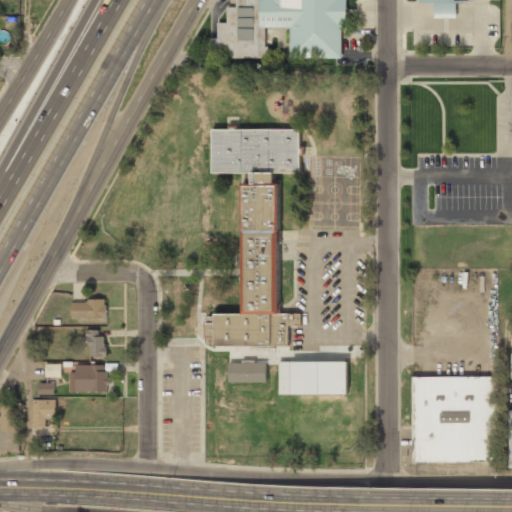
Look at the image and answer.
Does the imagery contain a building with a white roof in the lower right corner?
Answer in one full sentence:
Yes, a building with a white roof is visible in the lower right corner.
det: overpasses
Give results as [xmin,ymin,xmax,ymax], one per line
[0,472,512,512]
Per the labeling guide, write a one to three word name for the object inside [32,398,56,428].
house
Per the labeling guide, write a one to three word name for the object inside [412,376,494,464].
building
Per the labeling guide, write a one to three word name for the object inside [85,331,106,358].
house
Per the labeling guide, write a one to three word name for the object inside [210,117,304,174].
building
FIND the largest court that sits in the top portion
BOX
[309,157,361,228]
